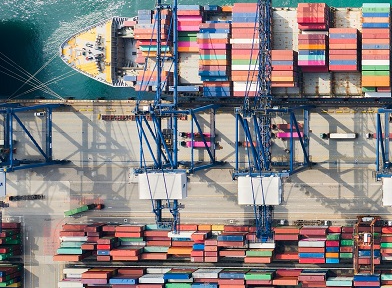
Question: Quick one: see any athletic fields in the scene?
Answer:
No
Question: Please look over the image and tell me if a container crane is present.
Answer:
Yes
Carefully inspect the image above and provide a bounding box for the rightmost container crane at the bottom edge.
[353,211,385,275]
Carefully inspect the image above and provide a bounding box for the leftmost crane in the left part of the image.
[0,103,76,200]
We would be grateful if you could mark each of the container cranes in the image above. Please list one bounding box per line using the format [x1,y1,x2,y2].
[353,211,385,275]
[373,104,392,208]
[0,103,76,200]
[231,0,319,242]
[129,0,232,231]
